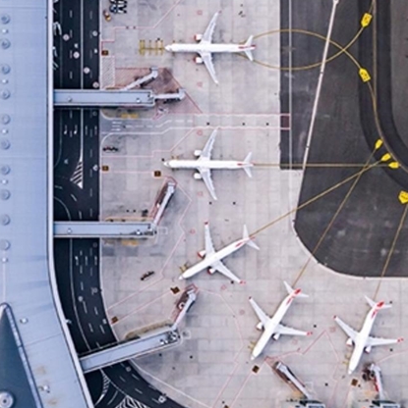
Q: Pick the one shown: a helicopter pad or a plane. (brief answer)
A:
plane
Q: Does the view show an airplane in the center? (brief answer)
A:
Yes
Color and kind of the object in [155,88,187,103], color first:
white jet bridge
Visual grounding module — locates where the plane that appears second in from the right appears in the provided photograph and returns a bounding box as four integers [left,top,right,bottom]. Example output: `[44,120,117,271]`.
[248,283,312,360]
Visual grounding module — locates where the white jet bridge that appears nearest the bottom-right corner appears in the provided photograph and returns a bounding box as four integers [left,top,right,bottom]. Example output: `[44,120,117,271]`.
[366,362,387,401]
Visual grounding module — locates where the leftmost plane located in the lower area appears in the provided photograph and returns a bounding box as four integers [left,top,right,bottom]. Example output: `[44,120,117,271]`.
[180,220,259,283]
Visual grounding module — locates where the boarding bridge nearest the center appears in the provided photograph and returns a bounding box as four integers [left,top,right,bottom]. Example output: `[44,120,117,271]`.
[153,182,175,228]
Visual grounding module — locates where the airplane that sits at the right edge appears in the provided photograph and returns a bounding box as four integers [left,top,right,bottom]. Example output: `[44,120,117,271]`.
[335,299,404,375]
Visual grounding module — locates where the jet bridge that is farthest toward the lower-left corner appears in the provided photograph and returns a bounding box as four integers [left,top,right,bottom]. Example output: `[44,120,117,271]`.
[170,291,194,327]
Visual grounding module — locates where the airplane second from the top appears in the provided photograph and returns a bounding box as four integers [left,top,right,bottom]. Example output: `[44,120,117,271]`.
[164,132,254,197]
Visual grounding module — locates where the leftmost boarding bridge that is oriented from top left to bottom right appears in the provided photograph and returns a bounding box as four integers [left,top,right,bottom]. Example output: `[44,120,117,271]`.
[274,361,312,400]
